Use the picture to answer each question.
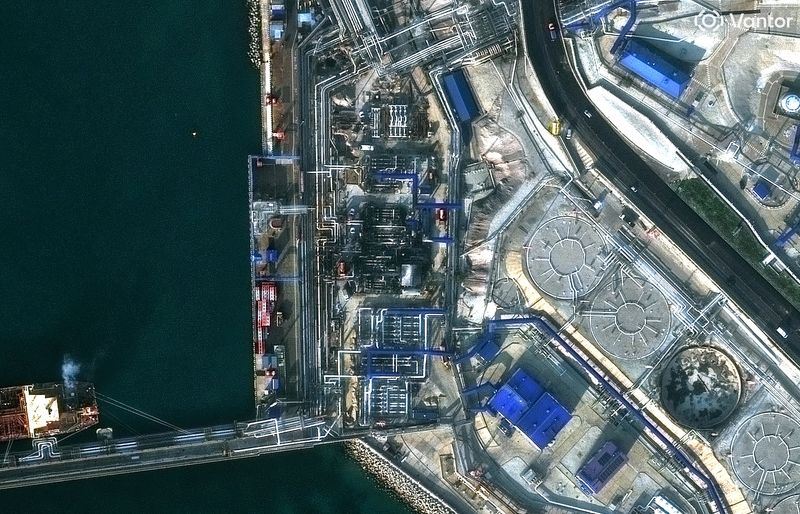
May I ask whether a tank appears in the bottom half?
Yes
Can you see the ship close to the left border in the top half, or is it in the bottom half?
bottom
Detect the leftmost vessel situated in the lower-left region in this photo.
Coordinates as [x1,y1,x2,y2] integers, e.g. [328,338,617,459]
[0,382,98,441]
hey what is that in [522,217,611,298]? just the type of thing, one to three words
storage tank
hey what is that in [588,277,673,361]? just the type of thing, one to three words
storage tank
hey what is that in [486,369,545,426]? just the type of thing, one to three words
building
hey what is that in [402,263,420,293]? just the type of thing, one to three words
shed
